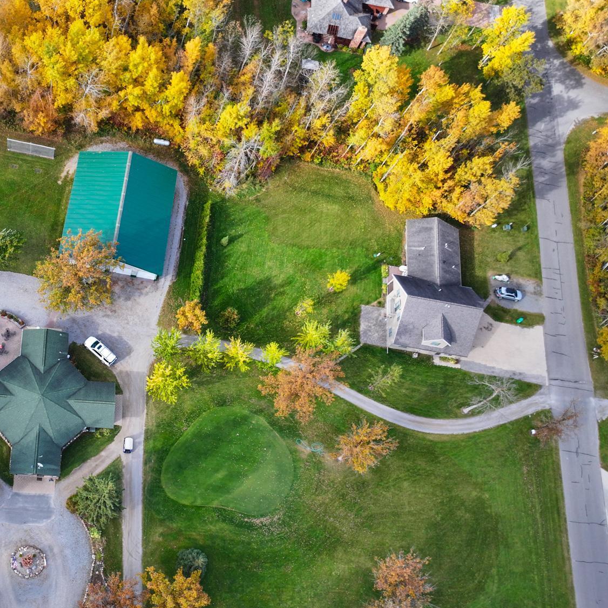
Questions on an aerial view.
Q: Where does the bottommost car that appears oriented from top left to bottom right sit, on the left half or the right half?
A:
left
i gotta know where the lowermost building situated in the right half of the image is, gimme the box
[382,218,483,360]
